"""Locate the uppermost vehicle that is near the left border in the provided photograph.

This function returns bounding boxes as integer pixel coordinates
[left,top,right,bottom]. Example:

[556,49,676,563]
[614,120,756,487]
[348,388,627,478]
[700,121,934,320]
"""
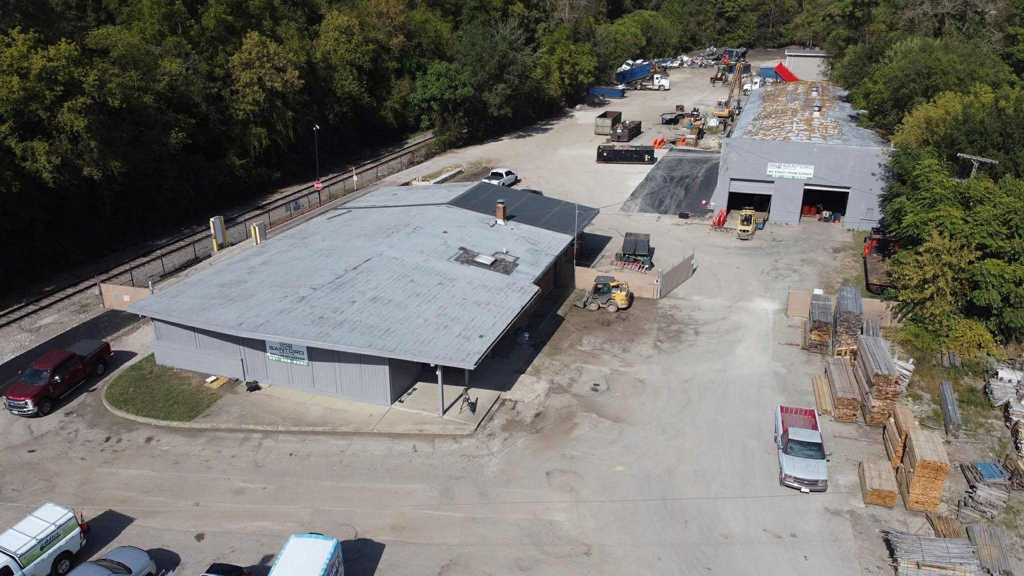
[0,341,114,414]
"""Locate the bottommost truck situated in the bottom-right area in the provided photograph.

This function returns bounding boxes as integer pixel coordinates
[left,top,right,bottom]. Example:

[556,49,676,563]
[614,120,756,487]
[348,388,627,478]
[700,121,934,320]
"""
[775,409,837,496]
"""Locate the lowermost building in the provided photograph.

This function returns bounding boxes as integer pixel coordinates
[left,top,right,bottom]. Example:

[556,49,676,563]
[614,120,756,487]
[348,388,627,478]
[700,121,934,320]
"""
[124,181,606,416]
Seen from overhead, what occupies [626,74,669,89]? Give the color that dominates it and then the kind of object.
white vehicle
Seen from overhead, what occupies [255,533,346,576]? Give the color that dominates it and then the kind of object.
white van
